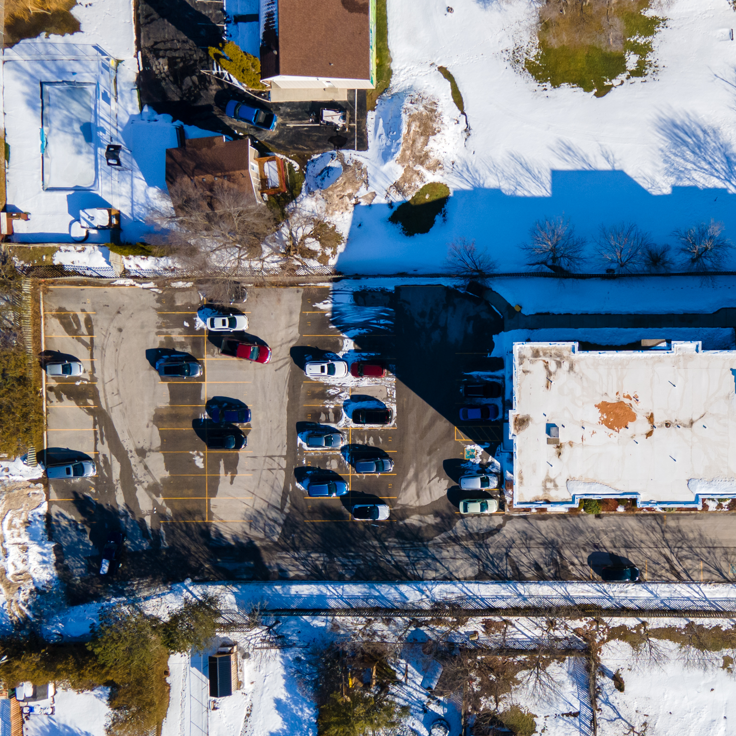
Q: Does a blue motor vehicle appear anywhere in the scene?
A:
Yes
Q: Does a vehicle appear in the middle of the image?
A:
Yes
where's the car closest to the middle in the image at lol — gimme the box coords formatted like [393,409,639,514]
[350,359,387,379]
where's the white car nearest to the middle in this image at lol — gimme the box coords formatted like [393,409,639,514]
[304,359,348,379]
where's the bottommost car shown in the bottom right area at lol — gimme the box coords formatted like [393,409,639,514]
[602,564,639,584]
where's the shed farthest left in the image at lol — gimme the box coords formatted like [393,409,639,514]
[0,213,23,237]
